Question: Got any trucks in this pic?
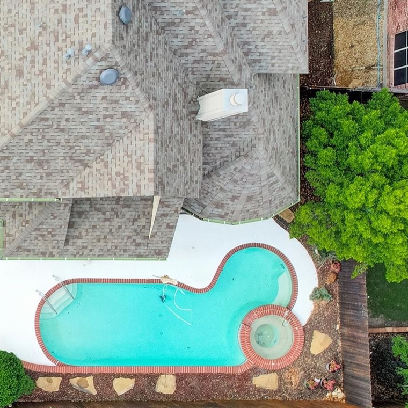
No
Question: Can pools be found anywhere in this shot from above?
Yes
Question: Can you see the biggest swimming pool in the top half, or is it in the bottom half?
bottom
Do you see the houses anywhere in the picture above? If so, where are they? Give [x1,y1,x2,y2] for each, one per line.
[0,0,335,262]
[385,0,408,88]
